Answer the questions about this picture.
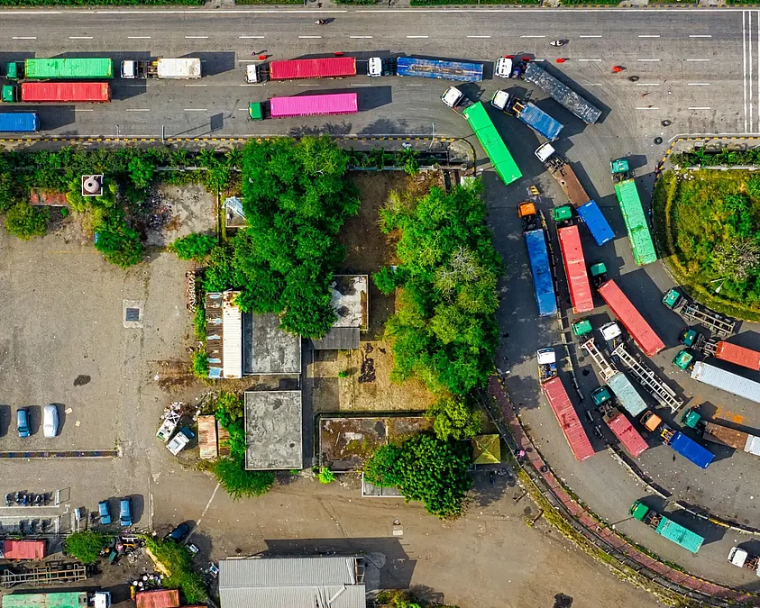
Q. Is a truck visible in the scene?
Yes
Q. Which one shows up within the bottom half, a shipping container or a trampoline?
shipping container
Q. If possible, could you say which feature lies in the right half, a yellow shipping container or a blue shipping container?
blue shipping container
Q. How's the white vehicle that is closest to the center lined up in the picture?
up and down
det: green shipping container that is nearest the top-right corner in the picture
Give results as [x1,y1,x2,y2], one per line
[615,179,659,268]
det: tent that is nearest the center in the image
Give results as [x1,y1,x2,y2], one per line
[472,433,501,463]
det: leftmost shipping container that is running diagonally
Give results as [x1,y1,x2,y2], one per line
[462,102,523,188]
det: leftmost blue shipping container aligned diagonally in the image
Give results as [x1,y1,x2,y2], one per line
[516,102,564,142]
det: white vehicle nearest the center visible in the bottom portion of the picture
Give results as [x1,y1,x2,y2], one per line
[534,347,555,387]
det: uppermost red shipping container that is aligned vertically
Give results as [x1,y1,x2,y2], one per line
[558,225,594,314]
